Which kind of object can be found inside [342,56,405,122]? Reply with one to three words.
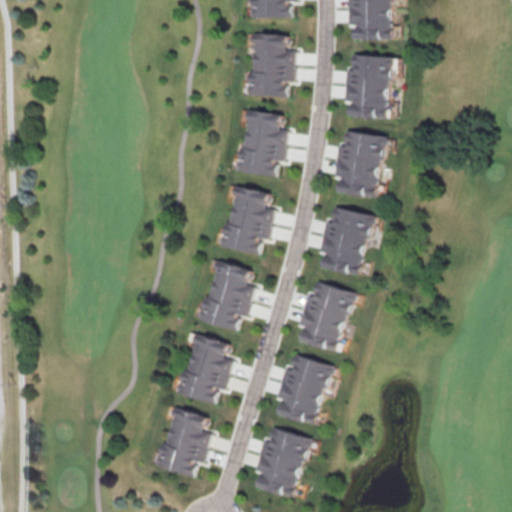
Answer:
house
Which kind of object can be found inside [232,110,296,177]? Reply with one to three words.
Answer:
house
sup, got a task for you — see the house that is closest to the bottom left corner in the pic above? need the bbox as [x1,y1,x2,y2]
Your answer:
[154,408,222,478]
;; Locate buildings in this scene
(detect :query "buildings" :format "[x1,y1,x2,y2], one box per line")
[154,408,222,478]
[232,110,296,177]
[254,430,323,500]
[174,333,240,405]
[195,260,262,330]
[216,186,283,254]
[342,56,405,122]
[346,0,408,41]
[276,356,342,426]
[297,282,367,354]
[318,207,386,277]
[332,131,398,200]
[248,0,304,20]
[243,34,304,98]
